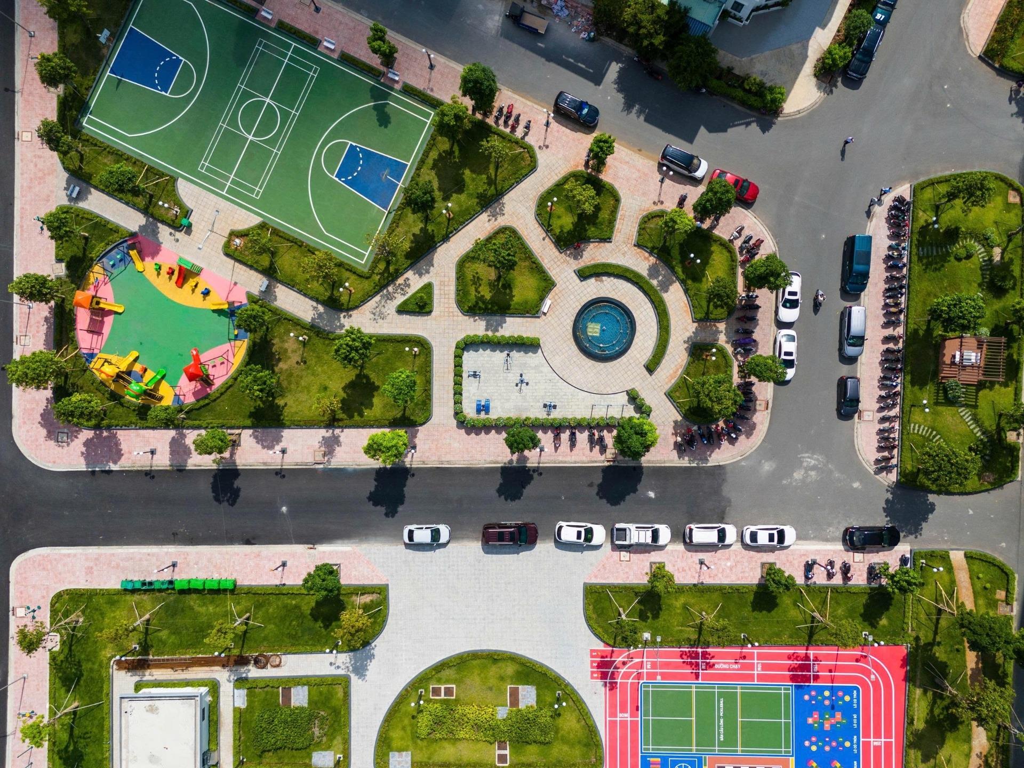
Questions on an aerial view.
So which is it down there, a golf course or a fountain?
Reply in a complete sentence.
Visible in the photo is a fountain.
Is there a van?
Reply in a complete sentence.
Yes, a van appears in the view.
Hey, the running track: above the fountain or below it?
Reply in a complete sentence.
Looking at the photo, you'll find the running track below the fountain.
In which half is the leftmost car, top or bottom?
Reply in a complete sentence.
The bottom half of the photo is where the leftmost car is.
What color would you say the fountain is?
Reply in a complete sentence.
From above, the fountain appears blue.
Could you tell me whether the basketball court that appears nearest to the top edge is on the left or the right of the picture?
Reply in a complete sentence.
It is on the left.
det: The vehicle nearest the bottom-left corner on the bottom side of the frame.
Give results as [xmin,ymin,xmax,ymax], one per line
[403,523,451,547]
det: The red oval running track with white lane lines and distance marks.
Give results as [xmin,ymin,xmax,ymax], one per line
[590,642,909,768]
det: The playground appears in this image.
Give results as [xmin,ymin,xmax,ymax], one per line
[74,235,247,406]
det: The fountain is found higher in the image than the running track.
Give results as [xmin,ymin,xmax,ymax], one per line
[572,297,636,361]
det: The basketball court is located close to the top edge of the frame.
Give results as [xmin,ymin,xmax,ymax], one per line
[79,0,436,269]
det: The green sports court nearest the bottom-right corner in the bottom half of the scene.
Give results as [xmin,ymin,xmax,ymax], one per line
[641,683,793,757]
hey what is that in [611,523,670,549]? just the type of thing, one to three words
truck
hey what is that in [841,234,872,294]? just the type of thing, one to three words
van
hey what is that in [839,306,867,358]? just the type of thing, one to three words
car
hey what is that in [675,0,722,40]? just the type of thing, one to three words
shed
